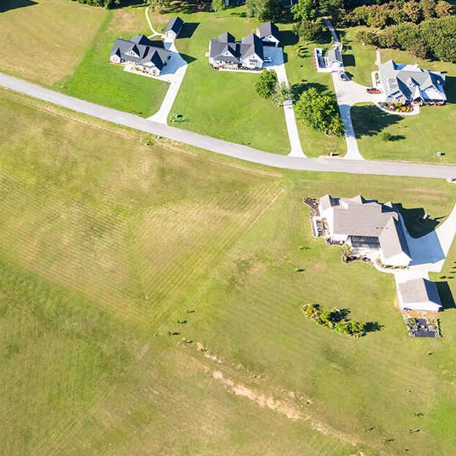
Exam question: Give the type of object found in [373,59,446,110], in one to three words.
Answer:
house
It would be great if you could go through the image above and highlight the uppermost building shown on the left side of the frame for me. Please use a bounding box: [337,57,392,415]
[159,17,187,45]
